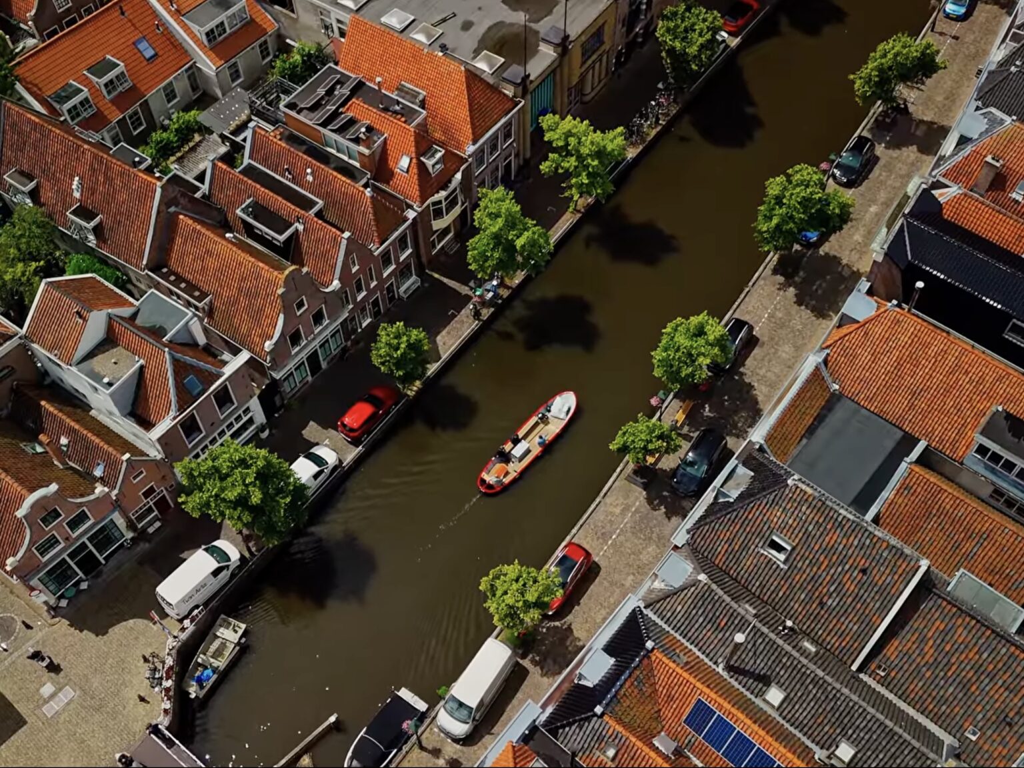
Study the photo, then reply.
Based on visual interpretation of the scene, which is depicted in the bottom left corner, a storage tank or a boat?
boat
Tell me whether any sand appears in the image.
No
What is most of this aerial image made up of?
buildings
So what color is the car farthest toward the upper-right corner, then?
blue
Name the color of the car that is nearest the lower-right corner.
black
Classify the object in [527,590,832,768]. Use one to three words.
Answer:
house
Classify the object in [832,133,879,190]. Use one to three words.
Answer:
car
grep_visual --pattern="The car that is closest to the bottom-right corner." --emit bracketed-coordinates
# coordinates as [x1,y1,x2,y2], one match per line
[670,424,730,505]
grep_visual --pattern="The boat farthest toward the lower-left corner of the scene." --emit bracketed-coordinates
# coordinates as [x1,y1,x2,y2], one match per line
[183,614,248,701]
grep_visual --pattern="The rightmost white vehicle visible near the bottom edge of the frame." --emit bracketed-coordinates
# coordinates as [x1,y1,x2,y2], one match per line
[431,627,524,745]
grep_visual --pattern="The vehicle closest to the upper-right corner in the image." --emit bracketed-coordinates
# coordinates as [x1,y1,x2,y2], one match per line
[943,0,975,25]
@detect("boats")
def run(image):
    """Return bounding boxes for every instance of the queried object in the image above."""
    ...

[344,682,436,768]
[183,614,248,701]
[477,388,579,496]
